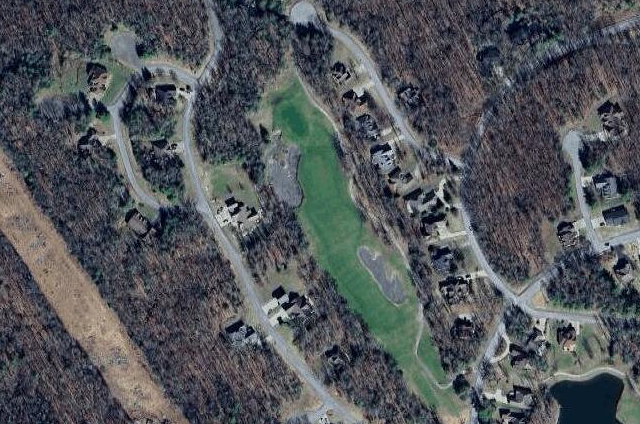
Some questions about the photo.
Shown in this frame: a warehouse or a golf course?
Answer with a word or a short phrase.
golf course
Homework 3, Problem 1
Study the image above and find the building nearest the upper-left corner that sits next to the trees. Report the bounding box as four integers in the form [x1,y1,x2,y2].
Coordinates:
[81,61,113,94]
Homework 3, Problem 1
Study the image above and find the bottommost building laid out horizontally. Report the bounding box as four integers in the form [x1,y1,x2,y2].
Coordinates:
[496,408,530,424]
